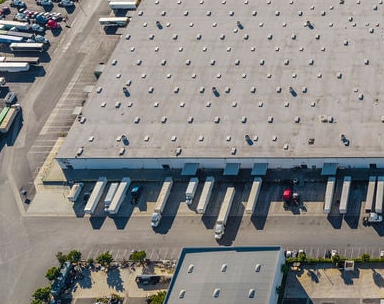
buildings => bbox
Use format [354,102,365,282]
[164,247,287,304]
[41,0,384,184]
